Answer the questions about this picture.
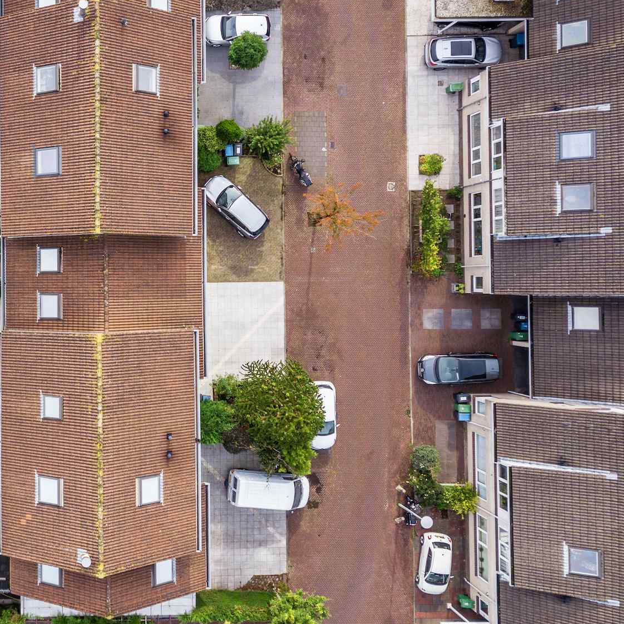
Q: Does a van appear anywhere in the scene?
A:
Yes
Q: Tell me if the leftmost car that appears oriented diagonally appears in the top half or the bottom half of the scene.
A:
top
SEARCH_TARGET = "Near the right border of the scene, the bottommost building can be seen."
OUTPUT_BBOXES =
[468,394,624,624]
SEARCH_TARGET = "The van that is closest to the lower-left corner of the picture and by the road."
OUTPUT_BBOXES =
[225,467,305,511]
